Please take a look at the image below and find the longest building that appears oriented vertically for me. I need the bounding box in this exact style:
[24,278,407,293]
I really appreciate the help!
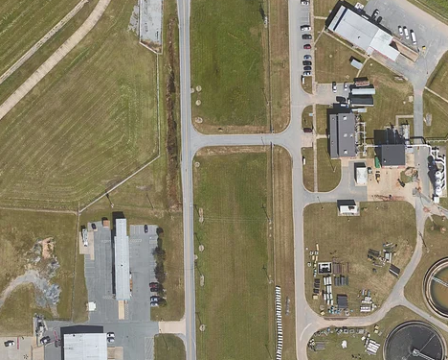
[113,218,131,300]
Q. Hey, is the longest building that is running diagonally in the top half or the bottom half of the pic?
top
